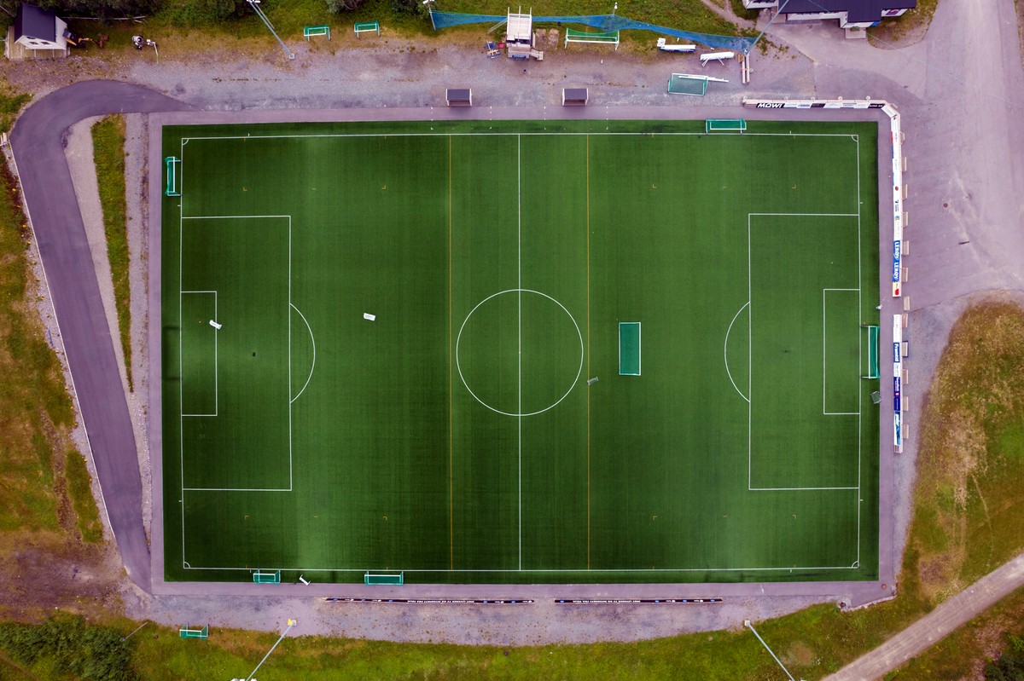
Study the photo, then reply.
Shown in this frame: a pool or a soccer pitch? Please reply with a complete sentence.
The one in the frame is a soccer pitch.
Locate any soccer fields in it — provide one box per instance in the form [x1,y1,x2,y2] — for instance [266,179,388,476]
[162,112,880,585]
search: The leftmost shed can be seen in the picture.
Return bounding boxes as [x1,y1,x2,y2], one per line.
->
[7,4,70,58]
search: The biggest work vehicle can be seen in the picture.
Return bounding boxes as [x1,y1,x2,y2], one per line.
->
[62,29,99,48]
